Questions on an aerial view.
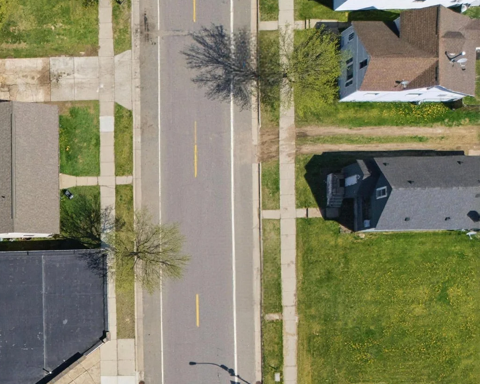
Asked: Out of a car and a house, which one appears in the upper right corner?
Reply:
house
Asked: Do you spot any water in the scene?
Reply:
No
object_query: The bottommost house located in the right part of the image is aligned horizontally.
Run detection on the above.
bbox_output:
[329,156,480,232]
